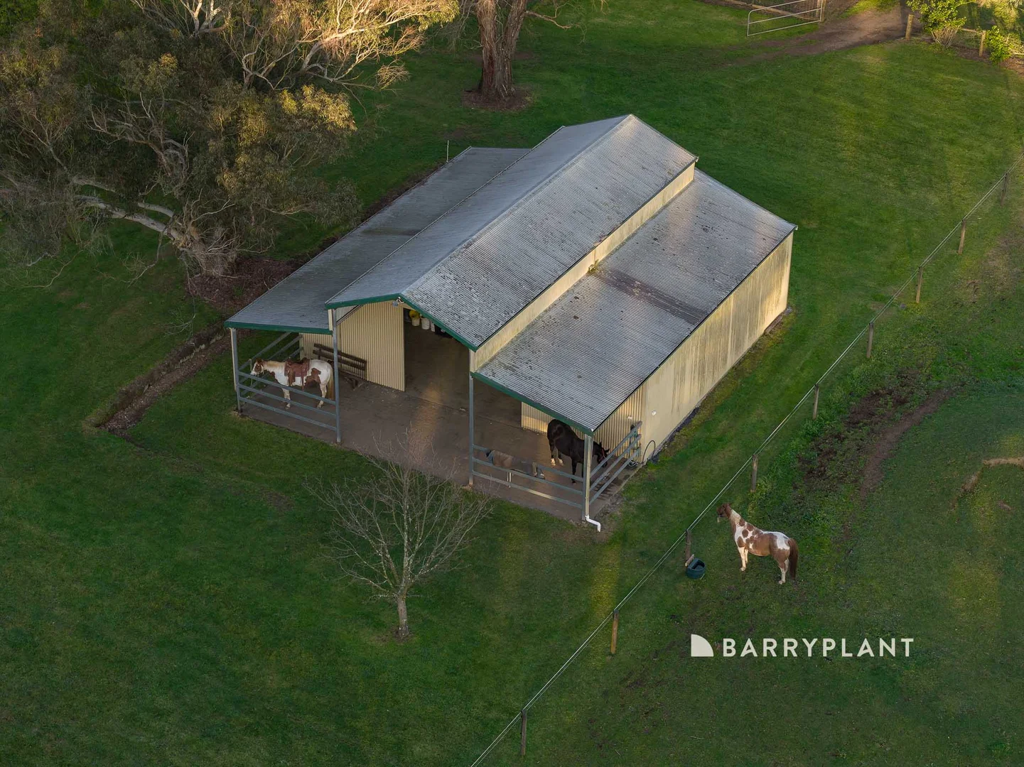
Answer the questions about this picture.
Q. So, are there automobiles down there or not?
No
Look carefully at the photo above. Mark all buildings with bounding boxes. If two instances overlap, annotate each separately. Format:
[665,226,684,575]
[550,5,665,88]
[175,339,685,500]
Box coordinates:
[222,111,800,533]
